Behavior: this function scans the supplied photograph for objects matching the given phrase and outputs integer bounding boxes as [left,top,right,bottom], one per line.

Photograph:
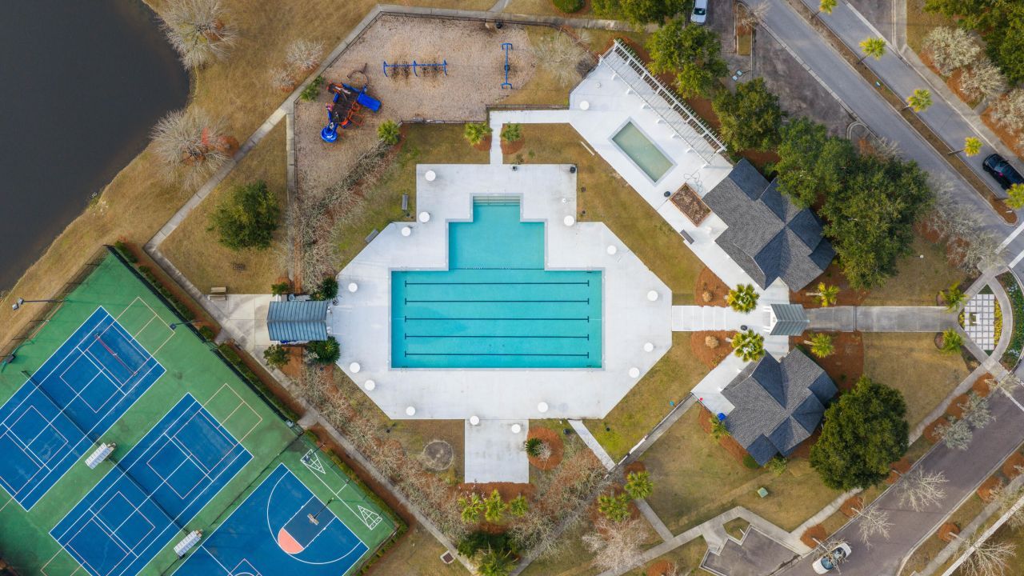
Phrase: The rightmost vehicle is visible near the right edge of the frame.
[987,156,1024,192]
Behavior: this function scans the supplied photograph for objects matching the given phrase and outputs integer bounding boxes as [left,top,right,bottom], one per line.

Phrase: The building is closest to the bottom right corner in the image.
[721,348,838,466]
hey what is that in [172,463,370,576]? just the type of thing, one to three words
basketball court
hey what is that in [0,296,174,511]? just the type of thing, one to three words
tennis court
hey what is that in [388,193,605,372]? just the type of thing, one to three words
swimming pool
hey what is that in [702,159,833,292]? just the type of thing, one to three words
building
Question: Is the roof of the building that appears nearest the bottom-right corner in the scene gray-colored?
Yes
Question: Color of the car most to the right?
black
